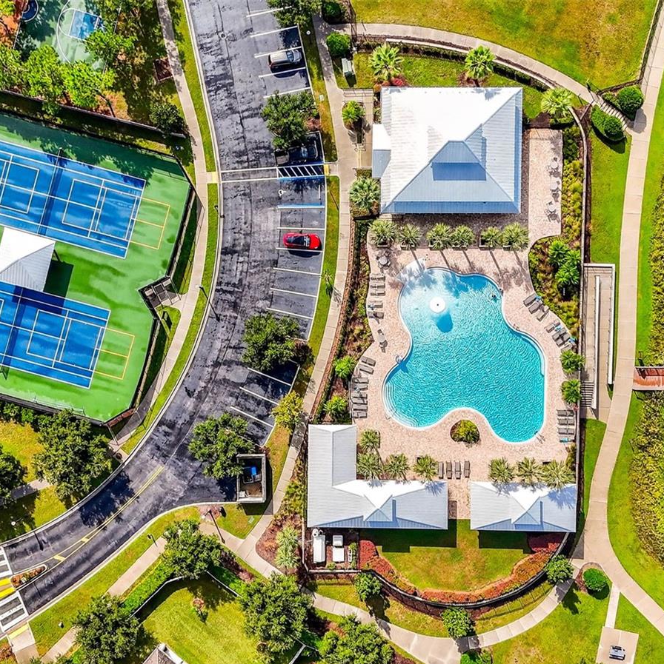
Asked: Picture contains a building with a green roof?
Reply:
No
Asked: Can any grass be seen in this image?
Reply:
Yes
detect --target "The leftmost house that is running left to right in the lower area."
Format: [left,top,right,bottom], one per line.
[143,642,192,664]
